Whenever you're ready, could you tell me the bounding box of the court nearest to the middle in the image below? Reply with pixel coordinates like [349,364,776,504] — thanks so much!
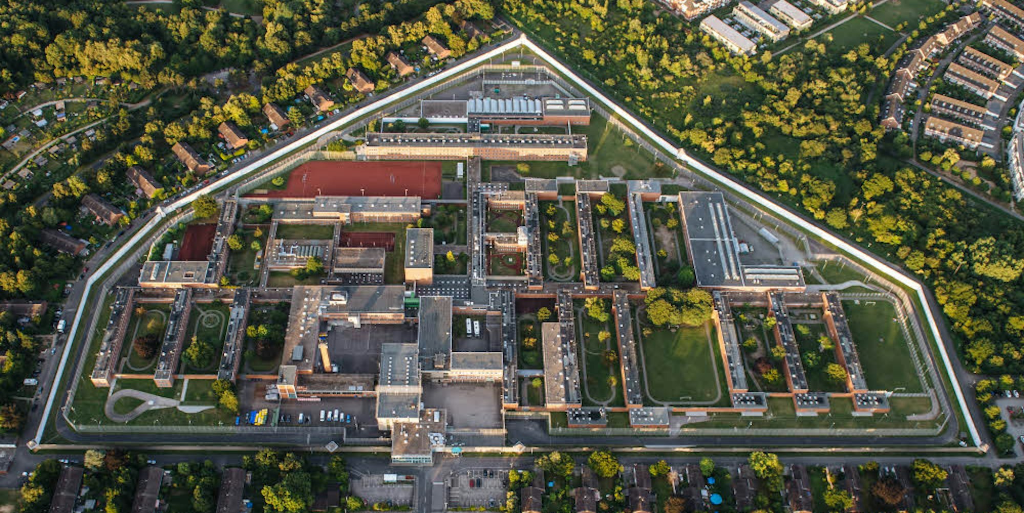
[517,298,556,313]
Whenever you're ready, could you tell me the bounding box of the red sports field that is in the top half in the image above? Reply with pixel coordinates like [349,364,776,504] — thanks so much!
[243,161,441,198]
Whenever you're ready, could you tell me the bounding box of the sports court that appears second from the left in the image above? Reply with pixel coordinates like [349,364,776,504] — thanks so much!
[340,232,395,250]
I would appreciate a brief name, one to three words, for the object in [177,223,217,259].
sports court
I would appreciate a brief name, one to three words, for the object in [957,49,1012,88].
house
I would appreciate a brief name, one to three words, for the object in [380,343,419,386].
building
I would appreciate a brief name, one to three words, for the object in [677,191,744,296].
building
